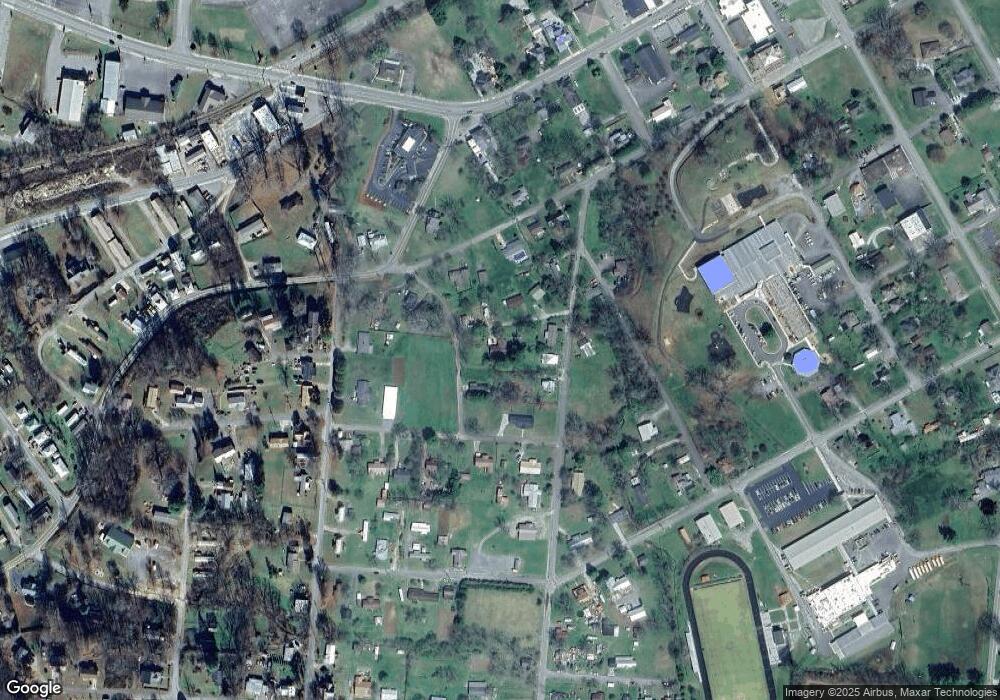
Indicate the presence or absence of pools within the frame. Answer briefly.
No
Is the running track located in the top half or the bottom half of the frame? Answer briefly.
bottom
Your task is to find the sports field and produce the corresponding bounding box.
[690,556,771,700]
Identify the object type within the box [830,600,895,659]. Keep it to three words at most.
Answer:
building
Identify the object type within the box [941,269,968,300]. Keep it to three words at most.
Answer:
house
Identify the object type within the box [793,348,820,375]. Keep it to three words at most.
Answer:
building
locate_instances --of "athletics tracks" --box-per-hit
[683,549,779,700]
